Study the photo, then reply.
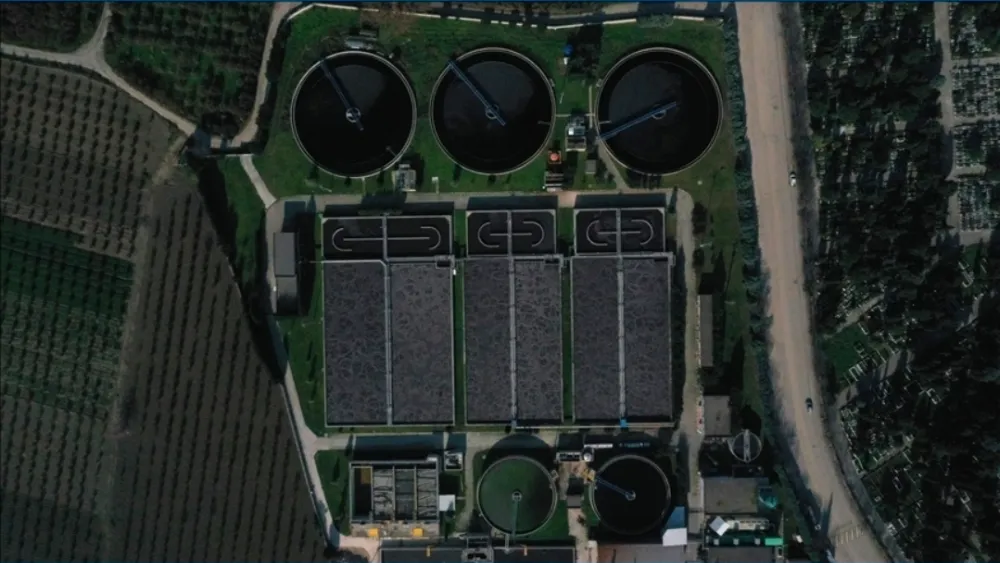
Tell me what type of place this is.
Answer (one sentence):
It's an industrial area.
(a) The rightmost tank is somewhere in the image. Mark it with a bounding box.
[726,429,762,462]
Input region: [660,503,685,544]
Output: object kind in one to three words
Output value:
building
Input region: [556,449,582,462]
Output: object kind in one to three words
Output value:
building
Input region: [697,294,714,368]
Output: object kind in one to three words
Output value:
shed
